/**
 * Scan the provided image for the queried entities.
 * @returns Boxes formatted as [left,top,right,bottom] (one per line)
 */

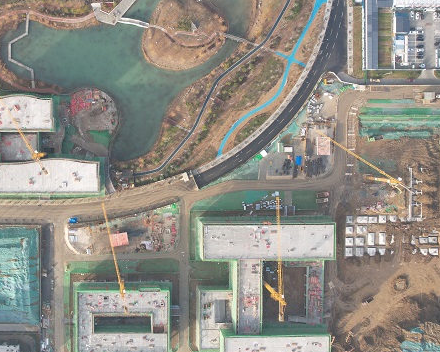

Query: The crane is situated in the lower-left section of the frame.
[101,203,126,318]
